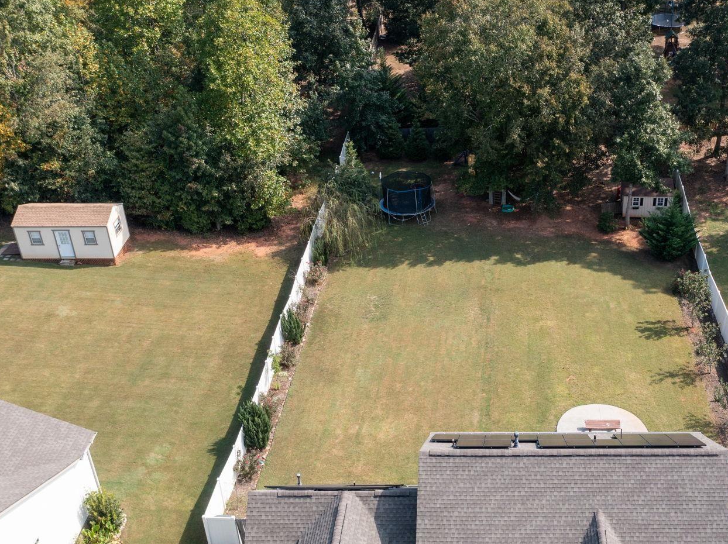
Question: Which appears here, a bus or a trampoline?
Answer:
trampoline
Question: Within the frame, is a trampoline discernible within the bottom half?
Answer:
No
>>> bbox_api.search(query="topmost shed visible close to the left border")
[9,202,131,263]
